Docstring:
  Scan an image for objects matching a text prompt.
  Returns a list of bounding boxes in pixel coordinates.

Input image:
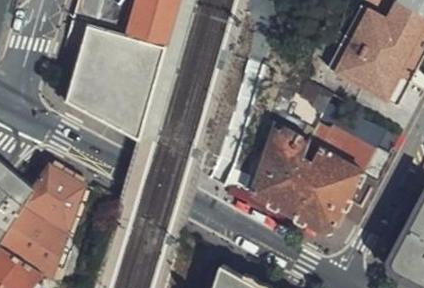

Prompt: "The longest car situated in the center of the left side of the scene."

[63,128,82,142]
